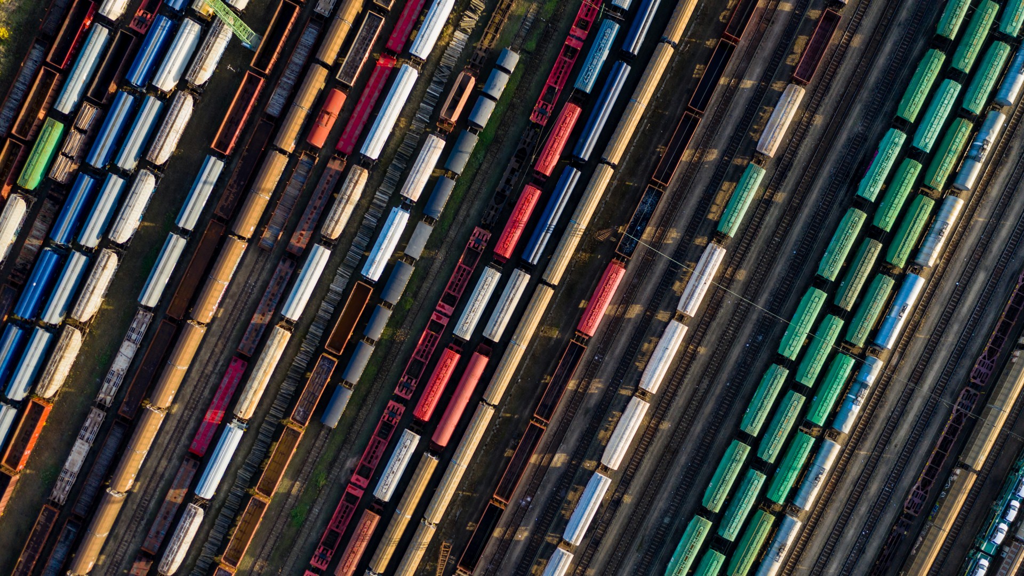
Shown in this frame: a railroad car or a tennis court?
railroad car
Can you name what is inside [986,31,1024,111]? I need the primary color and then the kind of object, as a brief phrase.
blue rail car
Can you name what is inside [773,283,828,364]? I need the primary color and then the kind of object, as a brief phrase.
green rail car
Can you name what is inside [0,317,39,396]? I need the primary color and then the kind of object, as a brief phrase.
blue rail car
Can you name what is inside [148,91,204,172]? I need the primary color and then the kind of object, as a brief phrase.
white rail car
